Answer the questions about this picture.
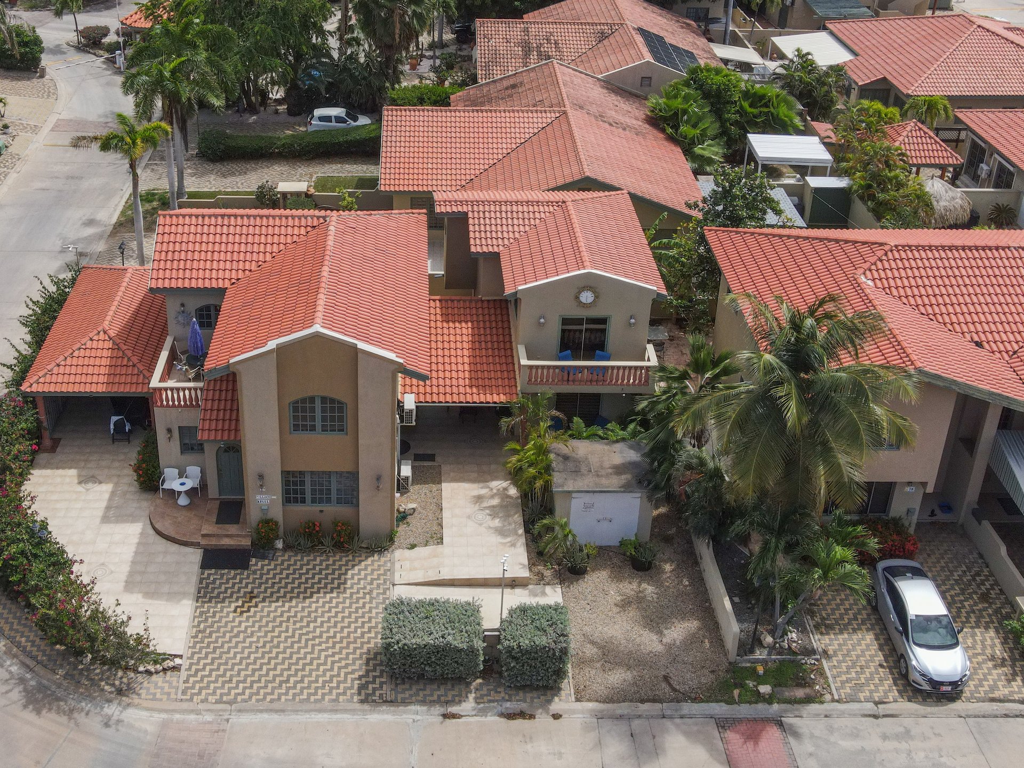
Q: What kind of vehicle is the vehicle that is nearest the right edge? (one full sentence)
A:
The vehicle that is nearest the right edge can be classified as a car.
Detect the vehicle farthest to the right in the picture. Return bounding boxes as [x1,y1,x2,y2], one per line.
[868,560,982,698]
